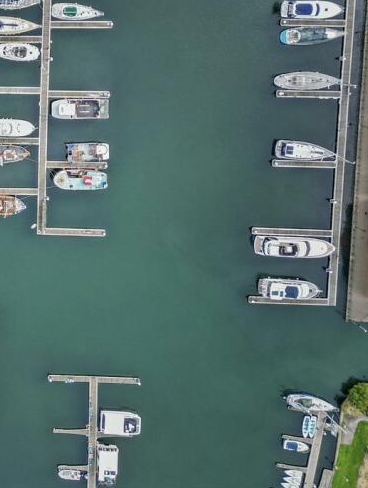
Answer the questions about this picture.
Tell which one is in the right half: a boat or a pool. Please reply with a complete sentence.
Looking in the right half, you will find a boat.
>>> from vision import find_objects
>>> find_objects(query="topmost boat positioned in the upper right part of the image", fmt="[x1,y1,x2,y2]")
[279,0,346,19]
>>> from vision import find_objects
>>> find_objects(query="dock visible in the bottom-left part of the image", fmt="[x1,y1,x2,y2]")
[48,374,141,488]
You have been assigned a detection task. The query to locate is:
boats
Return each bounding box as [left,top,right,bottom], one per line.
[52,98,110,120]
[58,469,91,481]
[99,410,141,441]
[282,439,310,453]
[256,277,319,301]
[279,25,346,45]
[54,169,108,191]
[273,71,343,90]
[0,0,40,10]
[96,442,120,487]
[273,140,347,164]
[285,394,354,446]
[0,16,41,36]
[0,41,42,61]
[0,118,35,137]
[303,416,311,438]
[0,145,33,165]
[279,0,346,19]
[0,194,26,219]
[61,142,110,162]
[253,235,336,259]
[48,3,104,22]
